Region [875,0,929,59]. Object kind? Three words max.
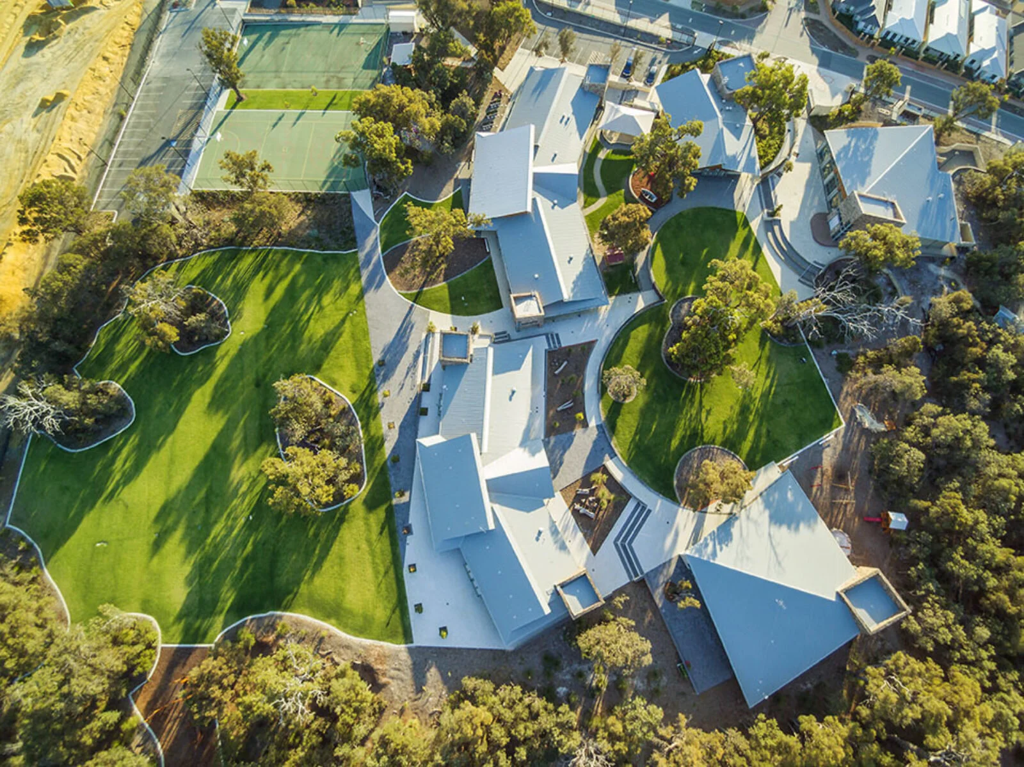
house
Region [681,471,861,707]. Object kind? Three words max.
building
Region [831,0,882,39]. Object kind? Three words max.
house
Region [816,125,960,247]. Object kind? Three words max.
building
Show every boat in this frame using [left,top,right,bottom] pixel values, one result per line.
[641,190,659,202]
